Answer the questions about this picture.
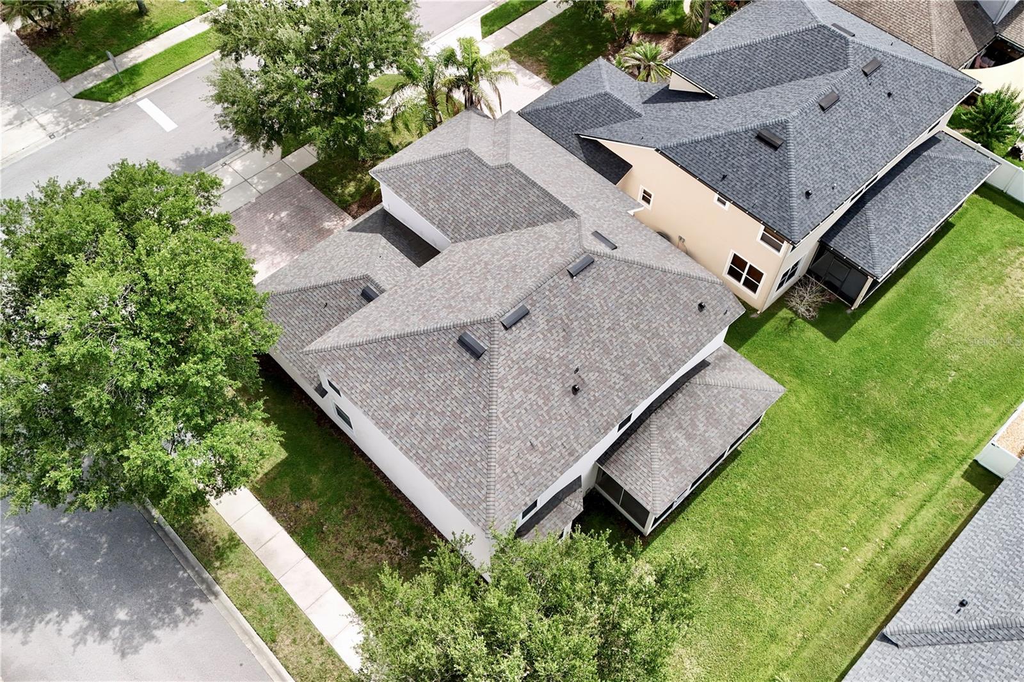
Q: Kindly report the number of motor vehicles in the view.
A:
none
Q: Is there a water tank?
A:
No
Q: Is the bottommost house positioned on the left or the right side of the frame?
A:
right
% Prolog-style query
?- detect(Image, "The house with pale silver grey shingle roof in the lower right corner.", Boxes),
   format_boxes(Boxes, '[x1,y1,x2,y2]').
[834,461,1024,682]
